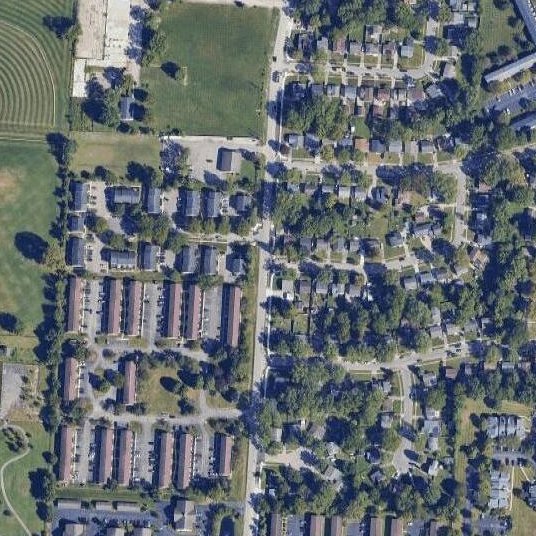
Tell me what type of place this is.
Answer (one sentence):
What you see here is a residential area.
